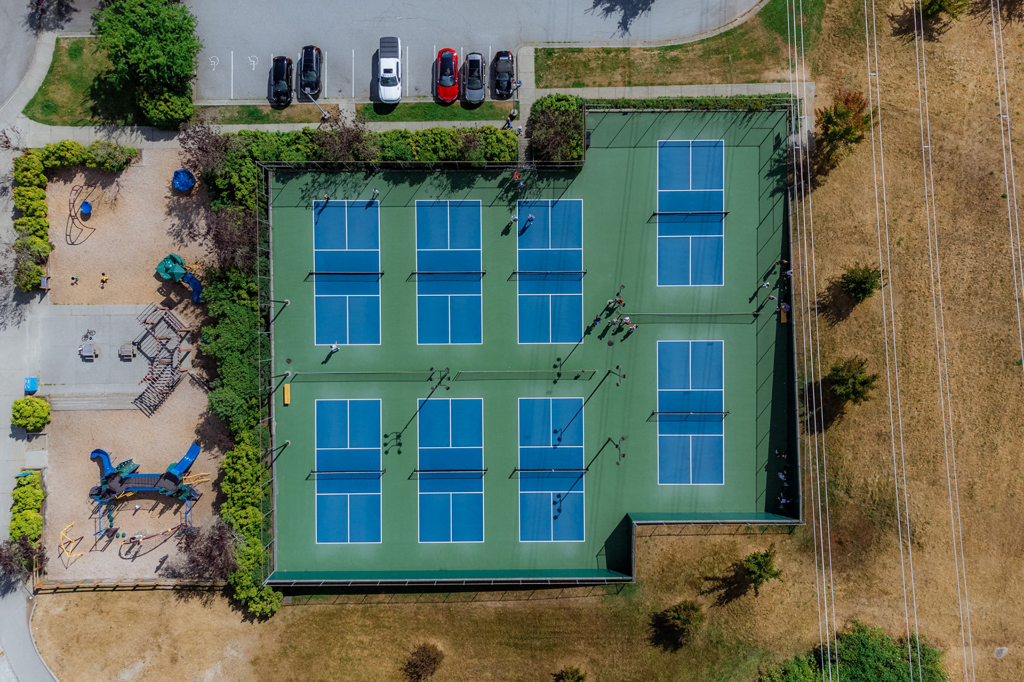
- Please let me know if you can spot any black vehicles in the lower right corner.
No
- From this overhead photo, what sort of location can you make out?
sports ground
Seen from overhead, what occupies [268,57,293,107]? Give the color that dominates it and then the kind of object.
black car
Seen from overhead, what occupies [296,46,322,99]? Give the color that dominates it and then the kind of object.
black car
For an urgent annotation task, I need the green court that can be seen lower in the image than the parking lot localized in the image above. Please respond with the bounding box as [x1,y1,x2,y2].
[271,110,788,572]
